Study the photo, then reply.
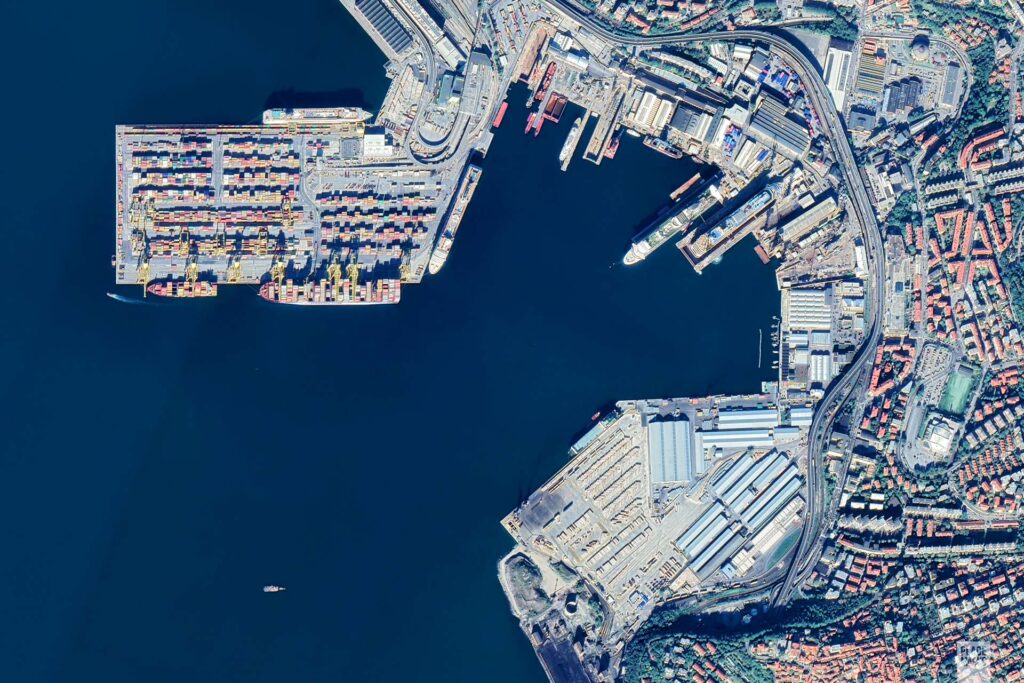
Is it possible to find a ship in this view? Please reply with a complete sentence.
Yes, the photo shows a ship.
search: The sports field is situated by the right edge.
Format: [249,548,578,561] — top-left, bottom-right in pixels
[939,372,974,413]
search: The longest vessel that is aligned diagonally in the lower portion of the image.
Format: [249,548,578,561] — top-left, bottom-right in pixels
[569,408,618,453]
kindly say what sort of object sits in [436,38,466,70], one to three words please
building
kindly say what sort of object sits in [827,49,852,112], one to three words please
building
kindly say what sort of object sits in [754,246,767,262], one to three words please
ship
